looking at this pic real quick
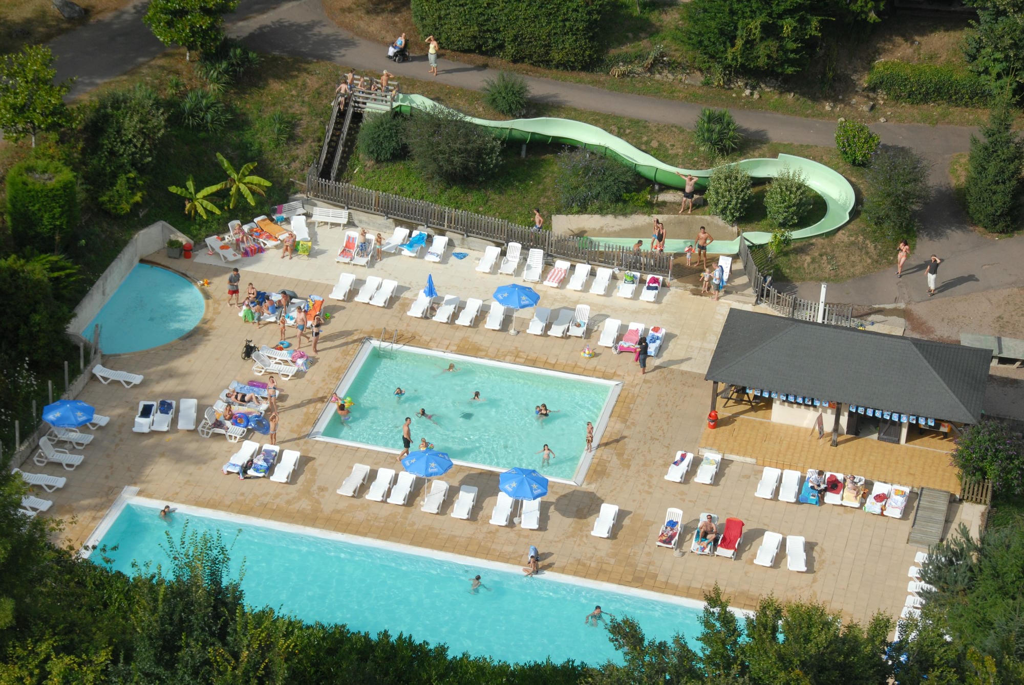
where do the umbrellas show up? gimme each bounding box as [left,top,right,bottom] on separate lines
[493,288,539,335]
[41,400,96,451]
[399,450,454,508]
[498,472,550,525]
[420,271,439,318]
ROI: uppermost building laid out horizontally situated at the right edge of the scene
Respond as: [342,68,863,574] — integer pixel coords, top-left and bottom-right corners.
[703,306,994,467]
